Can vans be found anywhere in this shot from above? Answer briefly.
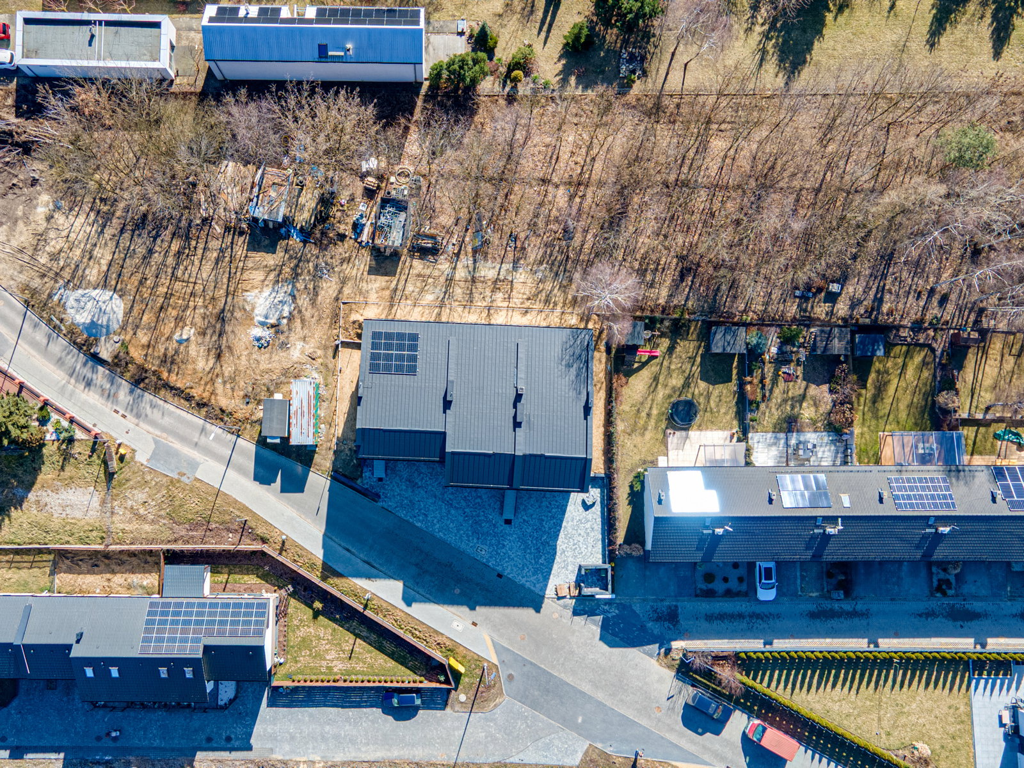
Yes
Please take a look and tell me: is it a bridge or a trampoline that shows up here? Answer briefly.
trampoline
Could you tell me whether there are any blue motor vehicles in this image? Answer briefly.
Yes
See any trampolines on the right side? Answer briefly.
Yes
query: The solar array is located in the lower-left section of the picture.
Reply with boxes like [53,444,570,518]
[138,599,270,653]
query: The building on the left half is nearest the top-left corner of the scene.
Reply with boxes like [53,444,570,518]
[15,10,177,80]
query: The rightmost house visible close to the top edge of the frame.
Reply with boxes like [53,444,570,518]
[202,7,425,86]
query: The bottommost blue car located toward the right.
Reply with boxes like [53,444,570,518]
[686,690,733,722]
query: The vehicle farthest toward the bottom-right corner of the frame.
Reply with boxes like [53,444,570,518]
[745,718,802,761]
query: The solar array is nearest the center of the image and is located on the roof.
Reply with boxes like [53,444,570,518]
[370,330,418,373]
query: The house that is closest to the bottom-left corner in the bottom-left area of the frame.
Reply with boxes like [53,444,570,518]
[0,565,283,703]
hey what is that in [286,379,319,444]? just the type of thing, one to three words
shed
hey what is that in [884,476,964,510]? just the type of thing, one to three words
solar array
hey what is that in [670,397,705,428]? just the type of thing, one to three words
trampoline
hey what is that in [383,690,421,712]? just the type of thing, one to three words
car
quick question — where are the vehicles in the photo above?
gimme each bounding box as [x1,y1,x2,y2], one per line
[756,562,777,600]
[0,22,13,42]
[745,718,802,761]
[0,49,18,70]
[686,690,733,722]
[383,690,421,712]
